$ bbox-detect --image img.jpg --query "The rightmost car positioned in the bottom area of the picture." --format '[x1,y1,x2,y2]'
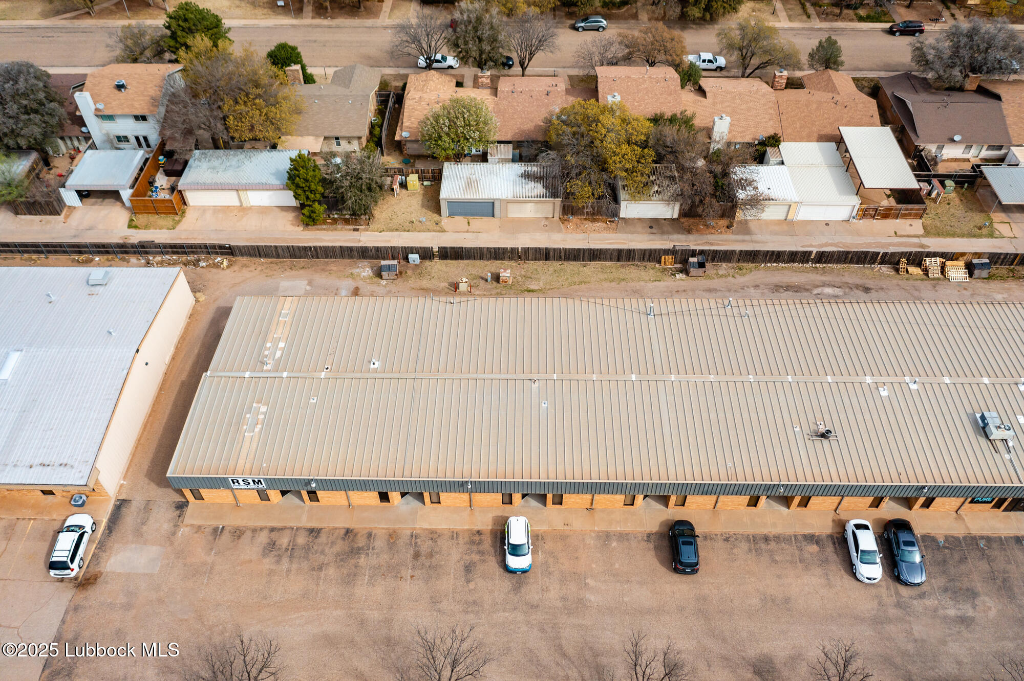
[886,522,932,587]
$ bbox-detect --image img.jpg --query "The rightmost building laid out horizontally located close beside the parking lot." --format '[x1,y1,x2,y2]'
[165,293,1024,513]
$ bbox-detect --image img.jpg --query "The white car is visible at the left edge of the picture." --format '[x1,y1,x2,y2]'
[46,518,96,579]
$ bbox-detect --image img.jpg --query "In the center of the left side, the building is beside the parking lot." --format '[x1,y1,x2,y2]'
[0,268,193,492]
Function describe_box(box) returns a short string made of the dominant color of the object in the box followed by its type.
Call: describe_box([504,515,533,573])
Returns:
white car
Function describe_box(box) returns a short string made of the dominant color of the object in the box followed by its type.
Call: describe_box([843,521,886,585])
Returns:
white car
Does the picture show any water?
No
